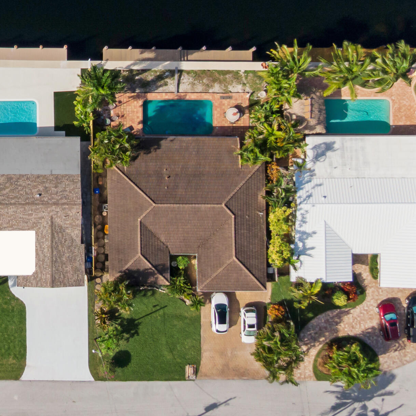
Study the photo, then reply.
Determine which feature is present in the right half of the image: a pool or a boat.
pool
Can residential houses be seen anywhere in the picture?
Yes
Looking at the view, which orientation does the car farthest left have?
up and down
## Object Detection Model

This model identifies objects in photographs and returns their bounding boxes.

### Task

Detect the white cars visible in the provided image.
[239,306,259,344]
[209,292,231,335]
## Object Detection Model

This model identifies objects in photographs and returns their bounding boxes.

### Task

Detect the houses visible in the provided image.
[107,137,268,292]
[0,136,85,288]
[286,135,416,289]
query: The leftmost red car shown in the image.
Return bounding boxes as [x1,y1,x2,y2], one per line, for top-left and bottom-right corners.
[376,301,401,342]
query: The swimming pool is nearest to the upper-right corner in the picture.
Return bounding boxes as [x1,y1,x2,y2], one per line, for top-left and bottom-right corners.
[324,96,393,135]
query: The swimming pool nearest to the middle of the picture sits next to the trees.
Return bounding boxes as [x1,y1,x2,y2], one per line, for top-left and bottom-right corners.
[140,98,215,136]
